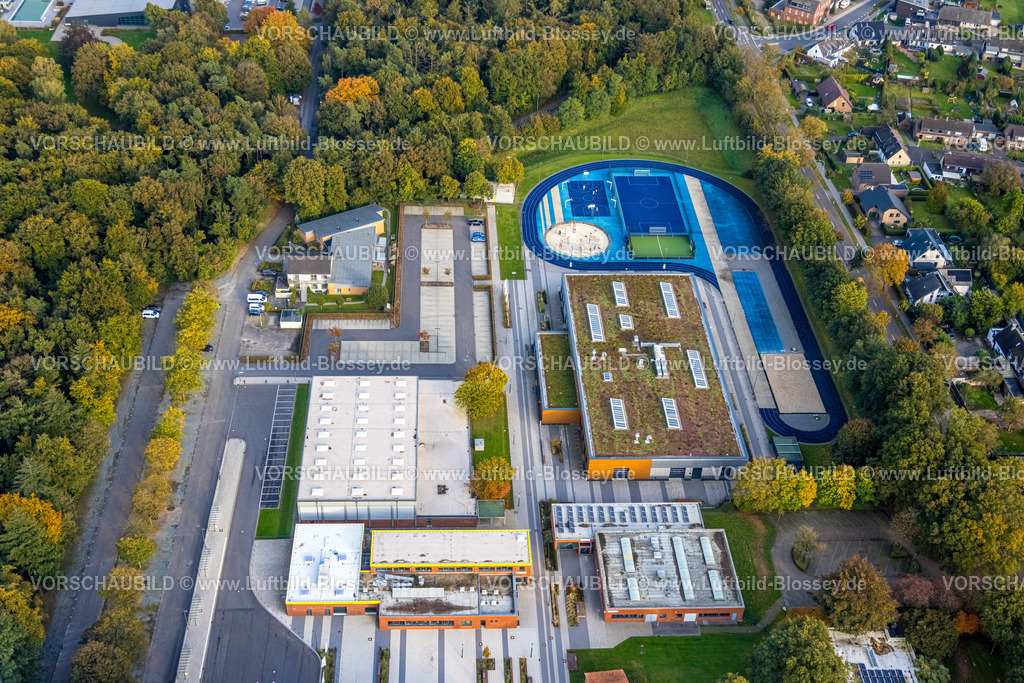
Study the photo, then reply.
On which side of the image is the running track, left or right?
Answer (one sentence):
The running track sits on the right side.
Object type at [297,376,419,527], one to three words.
building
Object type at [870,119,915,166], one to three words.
house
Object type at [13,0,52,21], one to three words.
swimming pool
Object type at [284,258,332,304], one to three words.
house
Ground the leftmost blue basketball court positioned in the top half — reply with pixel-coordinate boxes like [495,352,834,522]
[568,181,611,216]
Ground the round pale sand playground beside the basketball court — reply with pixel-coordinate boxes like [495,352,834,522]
[544,221,611,258]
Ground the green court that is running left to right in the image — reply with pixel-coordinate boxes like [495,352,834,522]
[631,236,694,258]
